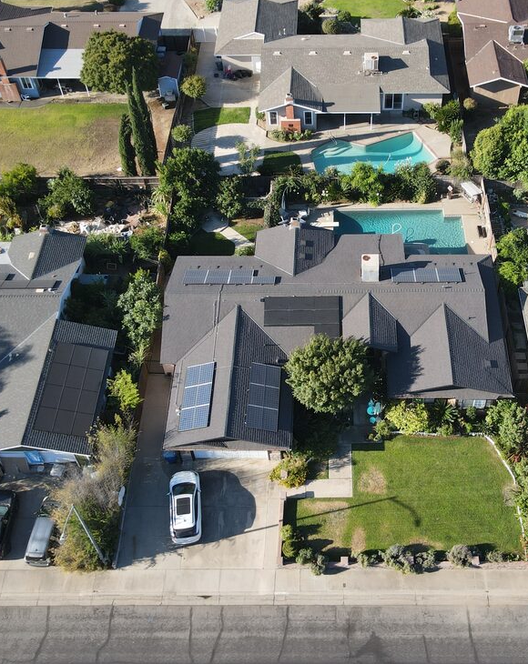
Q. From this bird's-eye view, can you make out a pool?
Yes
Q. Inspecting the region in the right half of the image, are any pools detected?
Yes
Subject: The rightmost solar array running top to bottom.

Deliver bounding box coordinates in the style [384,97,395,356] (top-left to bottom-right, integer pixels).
[246,361,281,430]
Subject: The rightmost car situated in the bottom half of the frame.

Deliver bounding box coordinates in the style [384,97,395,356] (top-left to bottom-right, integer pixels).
[164,474,203,550]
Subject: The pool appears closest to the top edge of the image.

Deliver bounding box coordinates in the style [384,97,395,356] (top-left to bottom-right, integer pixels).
[307,129,441,176]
